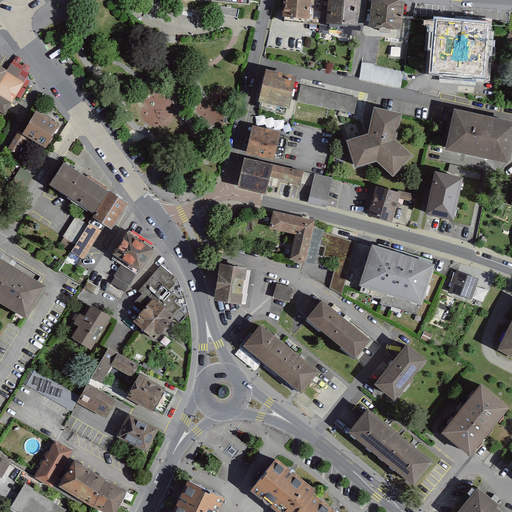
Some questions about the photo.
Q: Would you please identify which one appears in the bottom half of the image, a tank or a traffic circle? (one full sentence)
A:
There is a traffic circle in the bottom half of the image.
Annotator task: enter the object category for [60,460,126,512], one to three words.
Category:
house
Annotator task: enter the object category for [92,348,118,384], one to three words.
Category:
house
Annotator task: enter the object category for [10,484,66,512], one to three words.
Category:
building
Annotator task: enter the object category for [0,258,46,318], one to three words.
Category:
building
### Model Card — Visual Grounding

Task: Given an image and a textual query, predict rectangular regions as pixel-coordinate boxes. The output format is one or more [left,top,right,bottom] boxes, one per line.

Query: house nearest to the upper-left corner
[0,56,30,114]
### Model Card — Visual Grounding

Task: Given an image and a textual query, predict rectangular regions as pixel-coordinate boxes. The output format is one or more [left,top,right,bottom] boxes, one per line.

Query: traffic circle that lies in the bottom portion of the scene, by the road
[192,362,252,422]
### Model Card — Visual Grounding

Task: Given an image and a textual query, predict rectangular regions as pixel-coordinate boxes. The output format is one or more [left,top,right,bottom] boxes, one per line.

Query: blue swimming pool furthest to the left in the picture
[24,438,40,454]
